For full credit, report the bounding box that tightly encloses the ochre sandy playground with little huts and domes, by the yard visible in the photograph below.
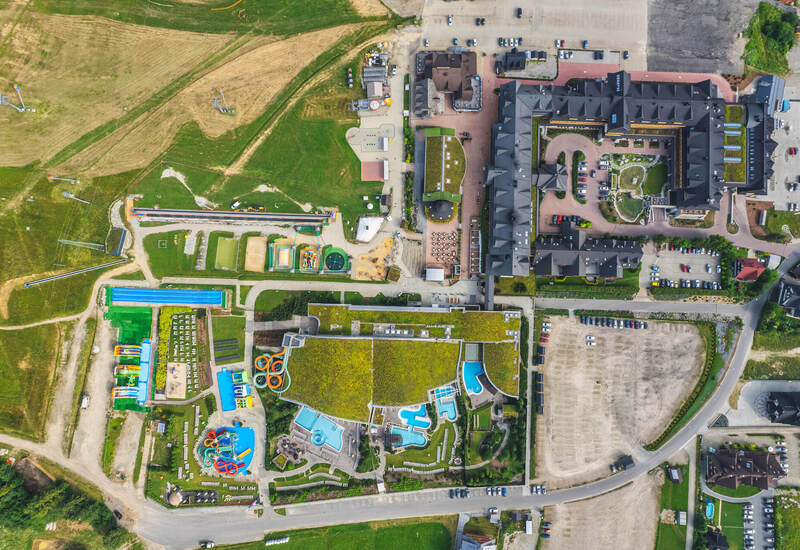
[355,238,394,280]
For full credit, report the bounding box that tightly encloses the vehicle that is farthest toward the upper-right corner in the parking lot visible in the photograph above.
[775,100,791,112]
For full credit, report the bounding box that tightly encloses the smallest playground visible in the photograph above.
[294,248,322,273]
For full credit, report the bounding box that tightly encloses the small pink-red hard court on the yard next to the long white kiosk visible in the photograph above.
[362,161,383,180]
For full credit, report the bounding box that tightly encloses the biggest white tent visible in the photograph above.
[355,218,383,242]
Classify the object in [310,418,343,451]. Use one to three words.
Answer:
swimming pool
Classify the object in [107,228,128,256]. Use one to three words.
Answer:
shed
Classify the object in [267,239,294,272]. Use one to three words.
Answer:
sports court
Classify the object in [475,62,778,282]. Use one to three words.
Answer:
building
